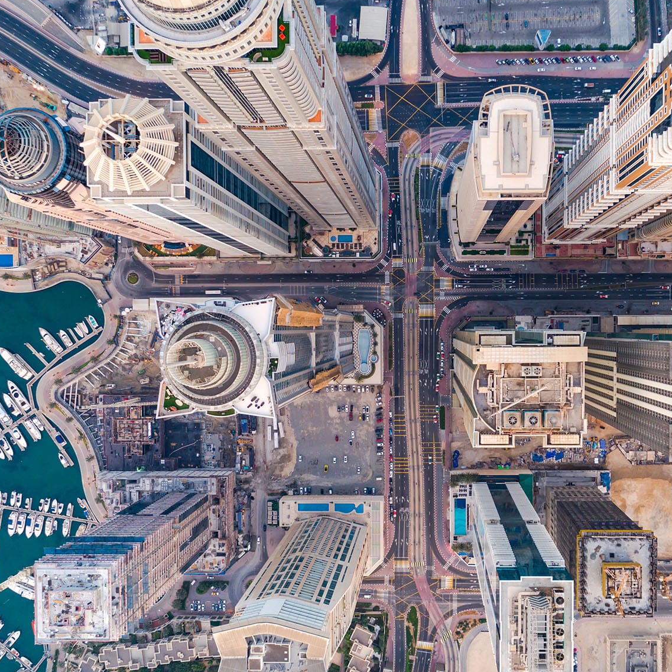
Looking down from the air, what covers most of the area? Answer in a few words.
buildings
